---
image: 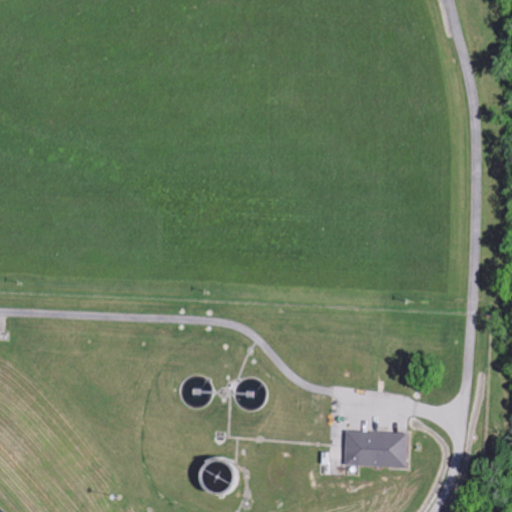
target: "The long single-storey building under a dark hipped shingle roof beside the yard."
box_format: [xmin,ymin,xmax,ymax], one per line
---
[346,430,408,471]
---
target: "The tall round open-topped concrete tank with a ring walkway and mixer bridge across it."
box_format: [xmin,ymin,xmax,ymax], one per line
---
[199,458,239,500]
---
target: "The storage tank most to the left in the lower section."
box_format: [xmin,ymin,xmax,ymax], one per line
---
[180,374,214,410]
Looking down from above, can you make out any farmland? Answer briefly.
Yes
